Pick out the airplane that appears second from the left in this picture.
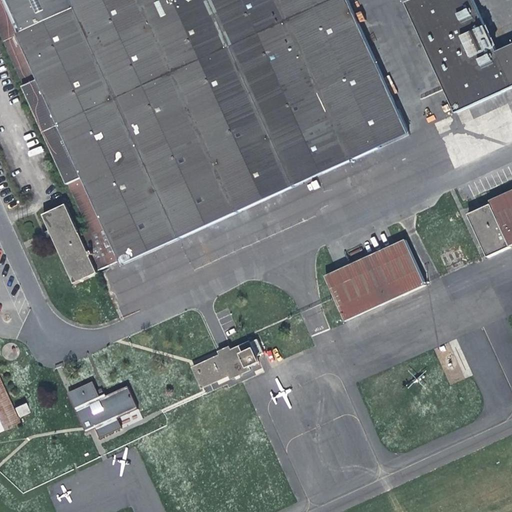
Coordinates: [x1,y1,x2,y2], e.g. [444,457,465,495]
[112,446,130,476]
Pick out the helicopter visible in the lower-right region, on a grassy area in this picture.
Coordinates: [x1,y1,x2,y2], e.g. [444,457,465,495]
[402,370,426,389]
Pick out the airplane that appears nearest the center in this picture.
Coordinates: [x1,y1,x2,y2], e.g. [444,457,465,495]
[269,378,291,409]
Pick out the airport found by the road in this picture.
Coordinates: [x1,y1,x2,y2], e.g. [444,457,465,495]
[244,286,512,512]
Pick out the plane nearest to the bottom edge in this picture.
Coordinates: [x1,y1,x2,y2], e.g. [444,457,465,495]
[58,484,73,504]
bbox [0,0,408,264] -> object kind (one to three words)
hangar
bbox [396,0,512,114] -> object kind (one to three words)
building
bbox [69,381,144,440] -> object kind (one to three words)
building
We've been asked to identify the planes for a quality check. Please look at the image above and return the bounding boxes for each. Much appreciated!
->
[58,484,73,504]
[112,446,130,476]
[269,378,291,409]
